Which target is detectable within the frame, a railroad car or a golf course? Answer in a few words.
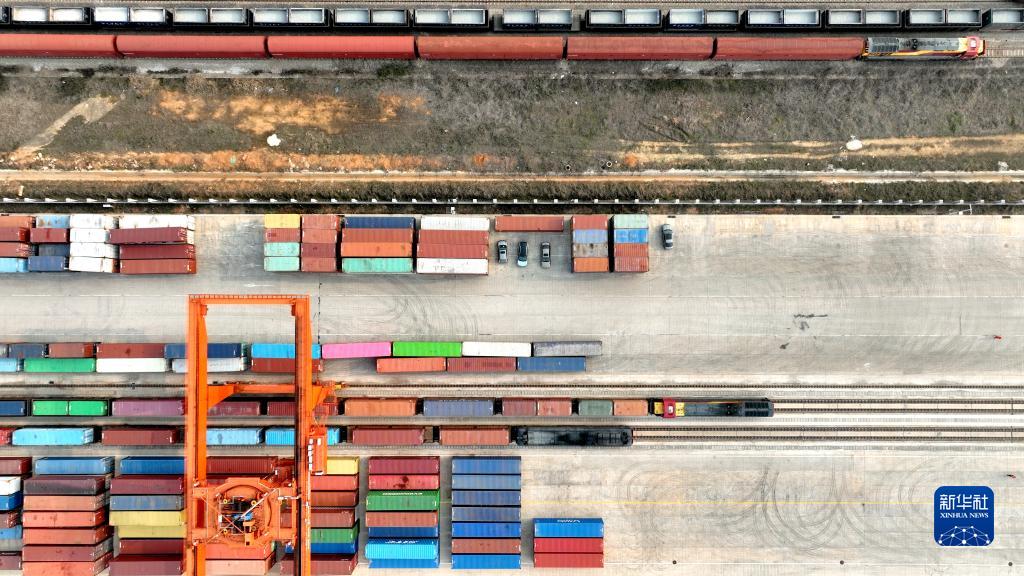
railroad car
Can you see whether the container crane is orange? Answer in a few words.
Yes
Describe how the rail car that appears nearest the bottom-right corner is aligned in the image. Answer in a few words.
from left to right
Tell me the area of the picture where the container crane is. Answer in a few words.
bottom left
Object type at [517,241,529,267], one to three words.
vehicle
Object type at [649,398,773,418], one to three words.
rail car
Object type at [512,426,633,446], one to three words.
rail car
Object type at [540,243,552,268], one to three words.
vehicle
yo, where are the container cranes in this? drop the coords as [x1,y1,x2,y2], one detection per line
[184,294,347,576]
